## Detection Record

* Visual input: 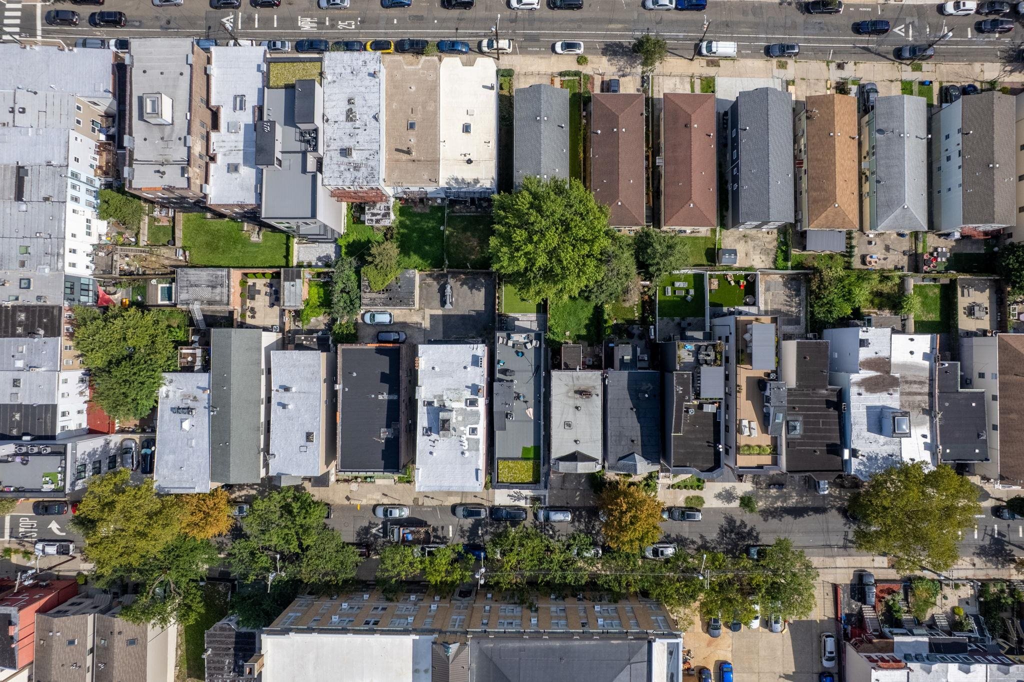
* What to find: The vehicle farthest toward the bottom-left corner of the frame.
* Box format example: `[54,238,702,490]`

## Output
[37,540,74,557]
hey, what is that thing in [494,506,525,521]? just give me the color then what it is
black car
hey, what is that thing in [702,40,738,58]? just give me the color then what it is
white vehicle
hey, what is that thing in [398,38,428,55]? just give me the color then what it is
black car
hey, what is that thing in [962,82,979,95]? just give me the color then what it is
black vehicle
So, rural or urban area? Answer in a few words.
urban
